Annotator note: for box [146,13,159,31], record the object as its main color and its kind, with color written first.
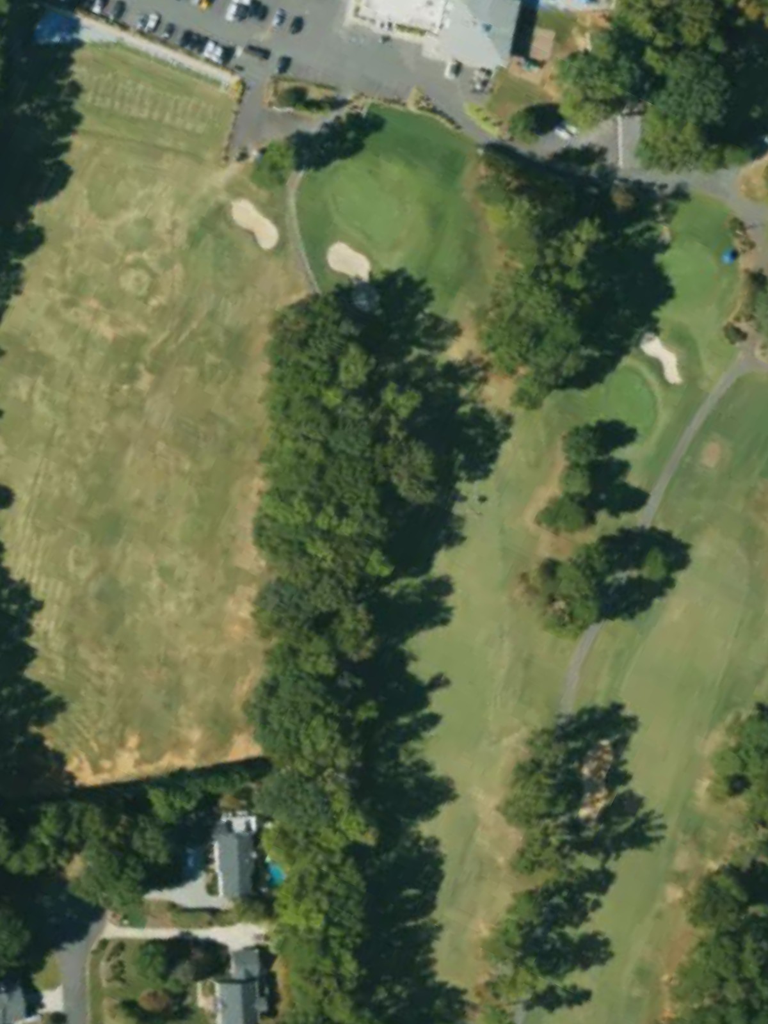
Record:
white vehicle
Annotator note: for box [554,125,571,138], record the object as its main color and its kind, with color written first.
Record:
white vehicle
